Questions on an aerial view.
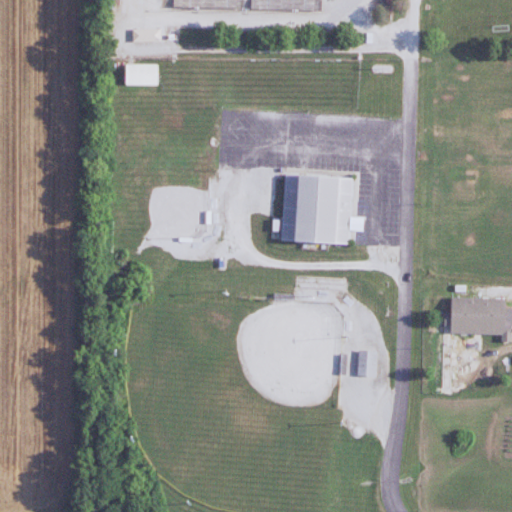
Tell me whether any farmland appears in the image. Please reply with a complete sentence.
Yes, some farmland is visible.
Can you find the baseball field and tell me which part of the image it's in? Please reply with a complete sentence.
The baseball field appears toward the bottom of the photo.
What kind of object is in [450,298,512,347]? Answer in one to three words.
house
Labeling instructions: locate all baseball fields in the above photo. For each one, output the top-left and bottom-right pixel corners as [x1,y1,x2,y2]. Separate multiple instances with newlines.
[126,296,344,512]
